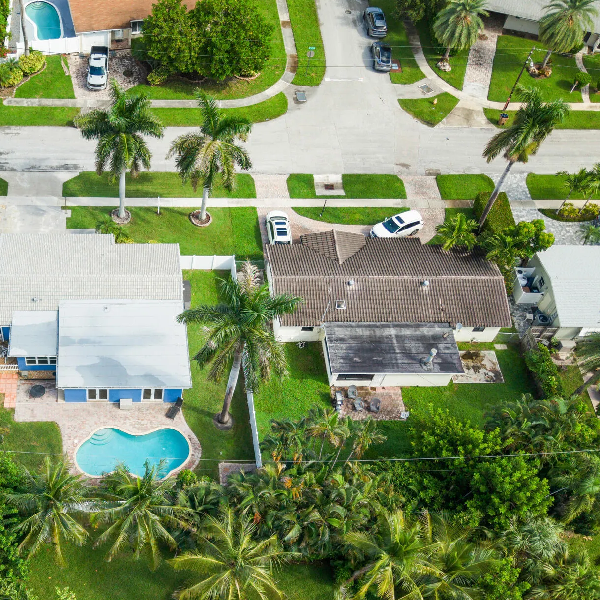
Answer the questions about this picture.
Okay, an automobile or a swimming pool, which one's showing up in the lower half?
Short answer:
swimming pool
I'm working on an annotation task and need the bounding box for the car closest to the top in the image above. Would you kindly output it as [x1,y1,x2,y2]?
[362,4,391,34]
